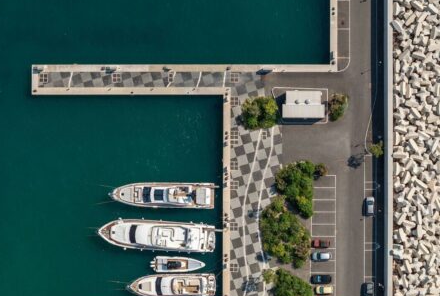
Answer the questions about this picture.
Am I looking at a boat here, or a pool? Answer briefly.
boat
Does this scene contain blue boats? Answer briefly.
No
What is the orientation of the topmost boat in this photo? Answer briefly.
horizontally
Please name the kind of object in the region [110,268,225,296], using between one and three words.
boat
